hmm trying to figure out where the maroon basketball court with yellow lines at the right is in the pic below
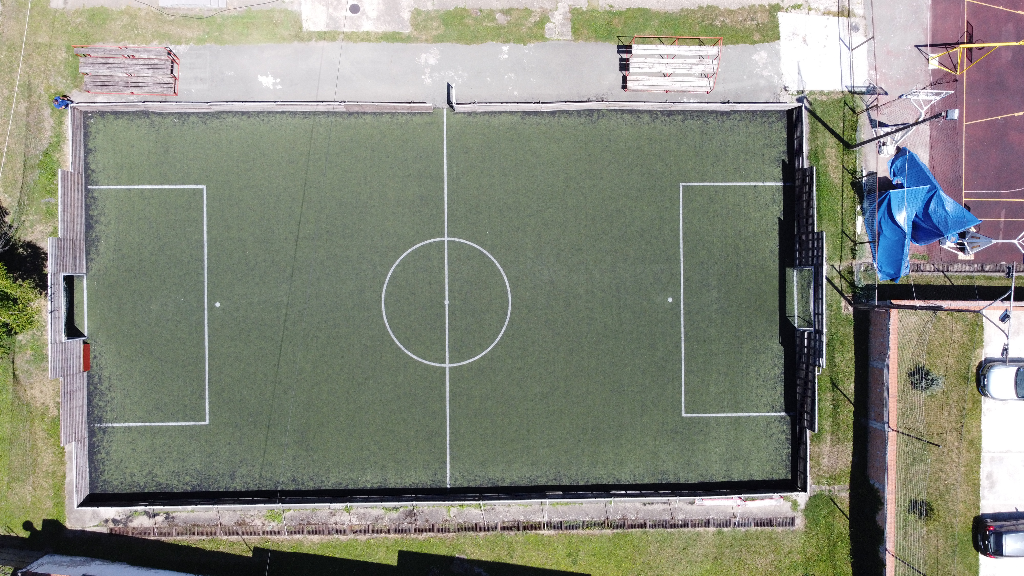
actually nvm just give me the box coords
[930,0,1024,264]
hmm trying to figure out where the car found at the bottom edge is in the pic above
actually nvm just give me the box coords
[975,516,1024,558]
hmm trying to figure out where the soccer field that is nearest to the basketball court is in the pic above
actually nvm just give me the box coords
[64,109,818,502]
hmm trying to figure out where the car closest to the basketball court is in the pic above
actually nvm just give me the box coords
[976,359,1024,403]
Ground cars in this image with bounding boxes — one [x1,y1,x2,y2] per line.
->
[976,359,1024,403]
[975,516,1024,558]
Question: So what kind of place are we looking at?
sports ground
